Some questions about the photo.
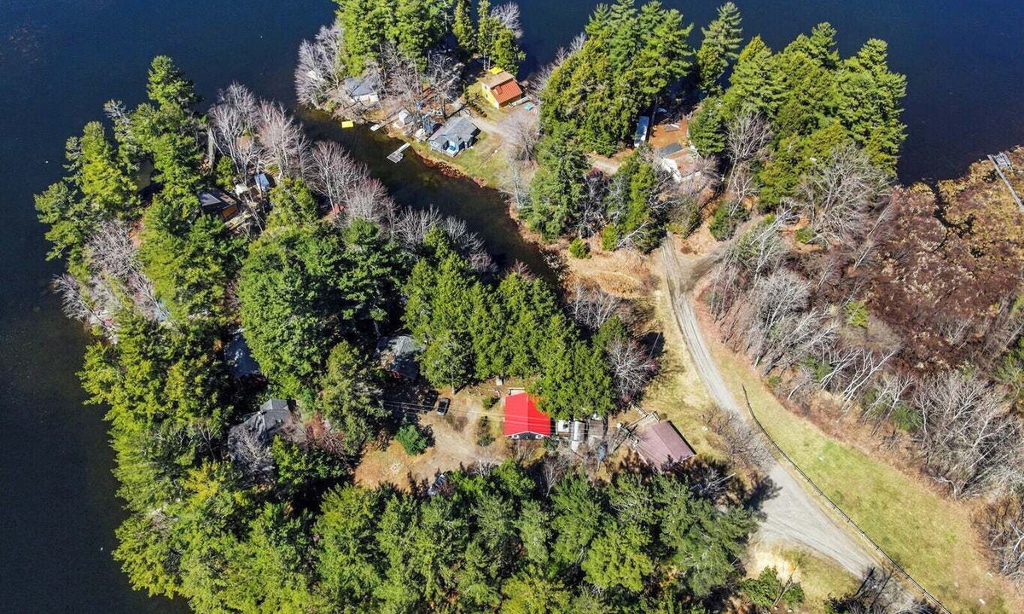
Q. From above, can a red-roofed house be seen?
Yes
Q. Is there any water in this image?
Yes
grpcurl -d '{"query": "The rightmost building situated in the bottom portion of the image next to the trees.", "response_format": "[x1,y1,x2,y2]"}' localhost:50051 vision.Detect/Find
[624,415,695,477]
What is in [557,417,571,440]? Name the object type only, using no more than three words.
camper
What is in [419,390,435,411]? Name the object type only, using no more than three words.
car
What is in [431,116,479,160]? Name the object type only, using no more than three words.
house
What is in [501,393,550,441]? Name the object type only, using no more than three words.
house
